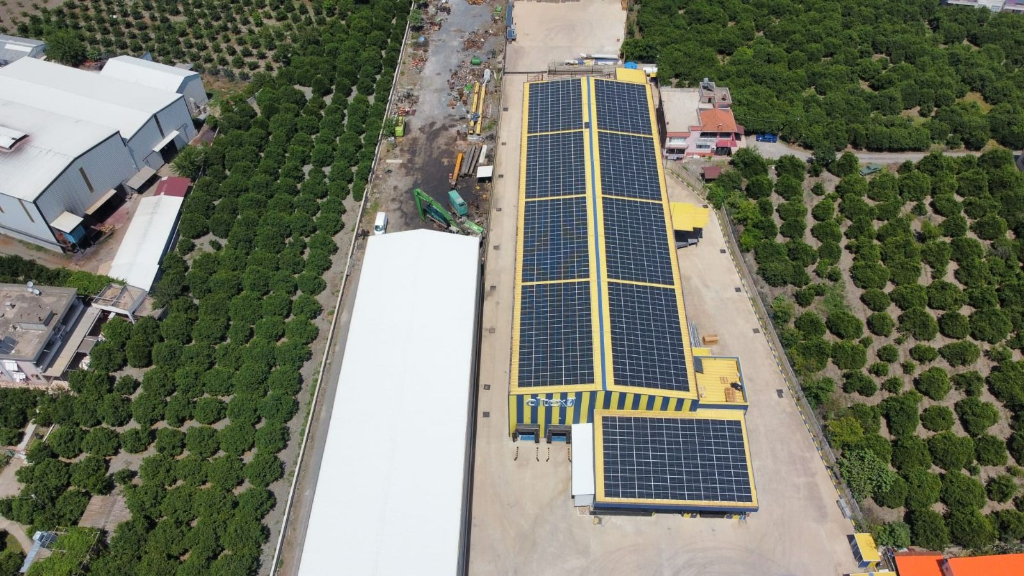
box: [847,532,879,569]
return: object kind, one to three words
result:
shed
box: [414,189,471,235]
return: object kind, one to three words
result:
work vehicle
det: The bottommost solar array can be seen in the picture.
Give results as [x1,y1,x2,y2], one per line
[602,416,753,503]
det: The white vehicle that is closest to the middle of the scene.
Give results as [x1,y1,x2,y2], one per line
[372,207,389,235]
